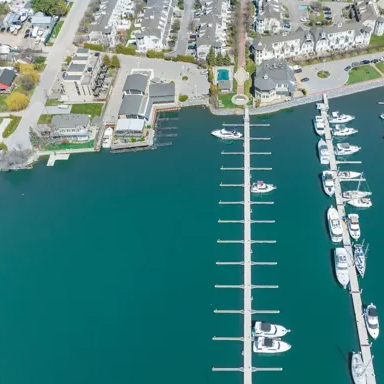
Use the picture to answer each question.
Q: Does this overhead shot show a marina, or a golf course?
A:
marina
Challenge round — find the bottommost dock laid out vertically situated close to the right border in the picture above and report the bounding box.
[317,102,376,384]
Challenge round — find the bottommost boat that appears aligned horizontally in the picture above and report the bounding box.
[251,337,291,354]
